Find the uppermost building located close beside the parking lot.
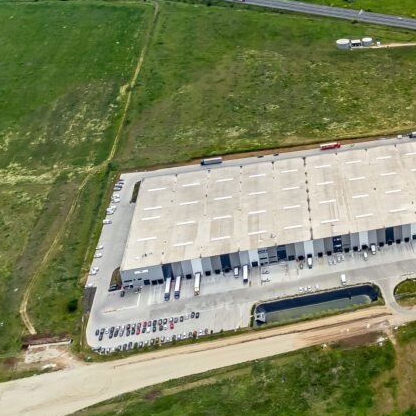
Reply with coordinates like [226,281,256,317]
[120,143,416,287]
